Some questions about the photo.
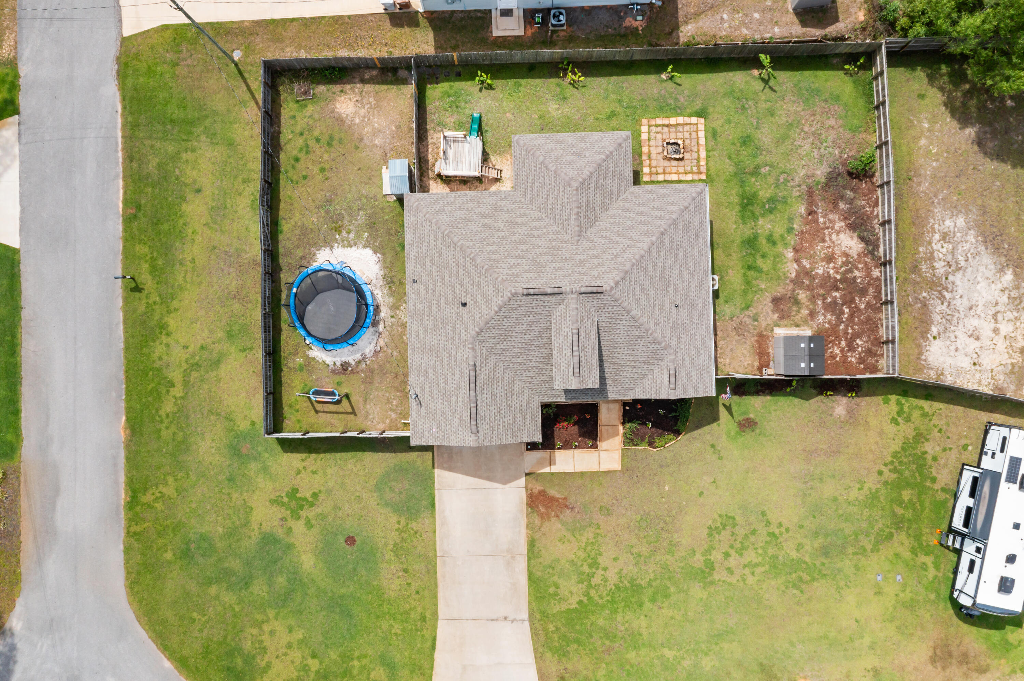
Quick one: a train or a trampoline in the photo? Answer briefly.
trampoline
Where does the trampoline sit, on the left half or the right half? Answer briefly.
left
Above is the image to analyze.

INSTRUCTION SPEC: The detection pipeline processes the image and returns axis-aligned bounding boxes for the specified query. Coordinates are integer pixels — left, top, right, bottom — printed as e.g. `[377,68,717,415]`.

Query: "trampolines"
[280,260,379,351]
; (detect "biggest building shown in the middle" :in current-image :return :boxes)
[404,131,717,449]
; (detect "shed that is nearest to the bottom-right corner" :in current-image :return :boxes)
[774,336,824,375]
